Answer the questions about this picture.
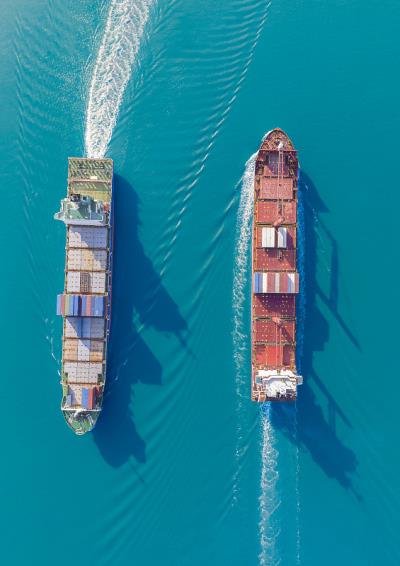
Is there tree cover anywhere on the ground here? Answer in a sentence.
No, there is no tree cover in the image.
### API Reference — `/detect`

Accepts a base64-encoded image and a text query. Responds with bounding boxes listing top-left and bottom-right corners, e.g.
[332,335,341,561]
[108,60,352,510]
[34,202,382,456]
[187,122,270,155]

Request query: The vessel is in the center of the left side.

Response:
[52,156,115,436]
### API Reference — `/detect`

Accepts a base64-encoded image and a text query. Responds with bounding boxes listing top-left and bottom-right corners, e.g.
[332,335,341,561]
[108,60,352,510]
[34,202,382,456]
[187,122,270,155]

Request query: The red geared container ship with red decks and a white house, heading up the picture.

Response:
[251,127,305,407]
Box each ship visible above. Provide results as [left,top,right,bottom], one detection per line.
[52,156,115,436]
[251,127,305,407]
